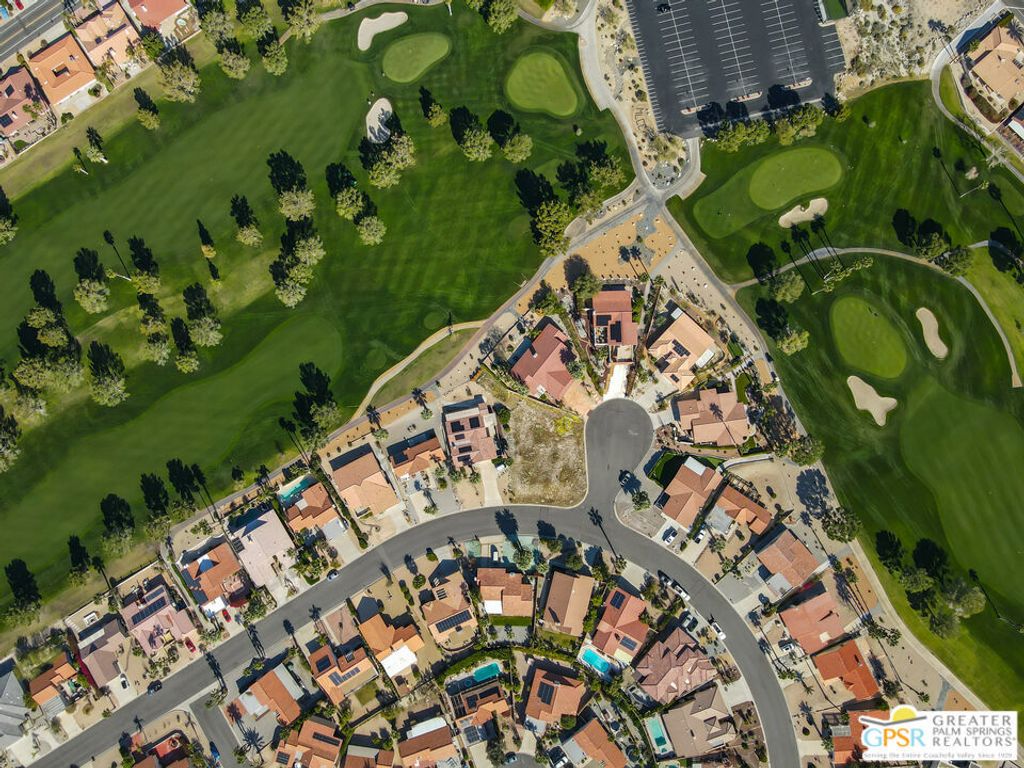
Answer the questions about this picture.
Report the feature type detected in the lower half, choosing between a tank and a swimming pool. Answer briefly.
swimming pool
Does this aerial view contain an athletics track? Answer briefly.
No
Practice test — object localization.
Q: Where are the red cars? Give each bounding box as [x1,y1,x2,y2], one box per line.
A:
[185,638,196,651]
[15,0,26,12]
[222,609,232,622]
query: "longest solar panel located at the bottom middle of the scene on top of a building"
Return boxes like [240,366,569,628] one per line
[436,610,472,633]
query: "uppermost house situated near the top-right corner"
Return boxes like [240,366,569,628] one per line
[960,24,1024,115]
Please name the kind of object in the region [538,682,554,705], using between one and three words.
solar panel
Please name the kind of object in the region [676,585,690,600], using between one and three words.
vehicle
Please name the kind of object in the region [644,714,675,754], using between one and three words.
swimming pool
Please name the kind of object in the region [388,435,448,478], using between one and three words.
house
